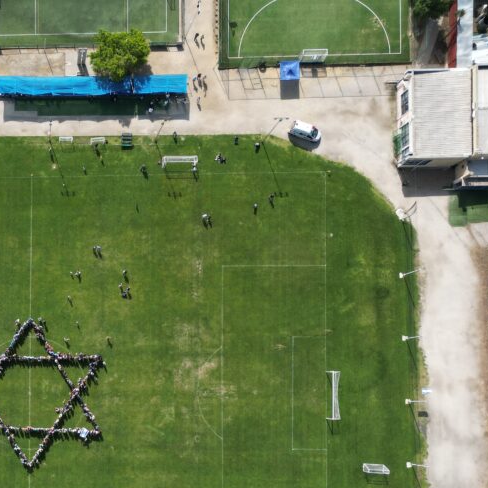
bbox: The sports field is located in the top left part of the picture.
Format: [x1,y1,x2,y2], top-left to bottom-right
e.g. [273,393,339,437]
[0,0,182,46]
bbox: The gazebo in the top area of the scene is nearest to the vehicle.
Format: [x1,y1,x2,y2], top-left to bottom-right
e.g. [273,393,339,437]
[275,61,300,87]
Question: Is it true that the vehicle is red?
No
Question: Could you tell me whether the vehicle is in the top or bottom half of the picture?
top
